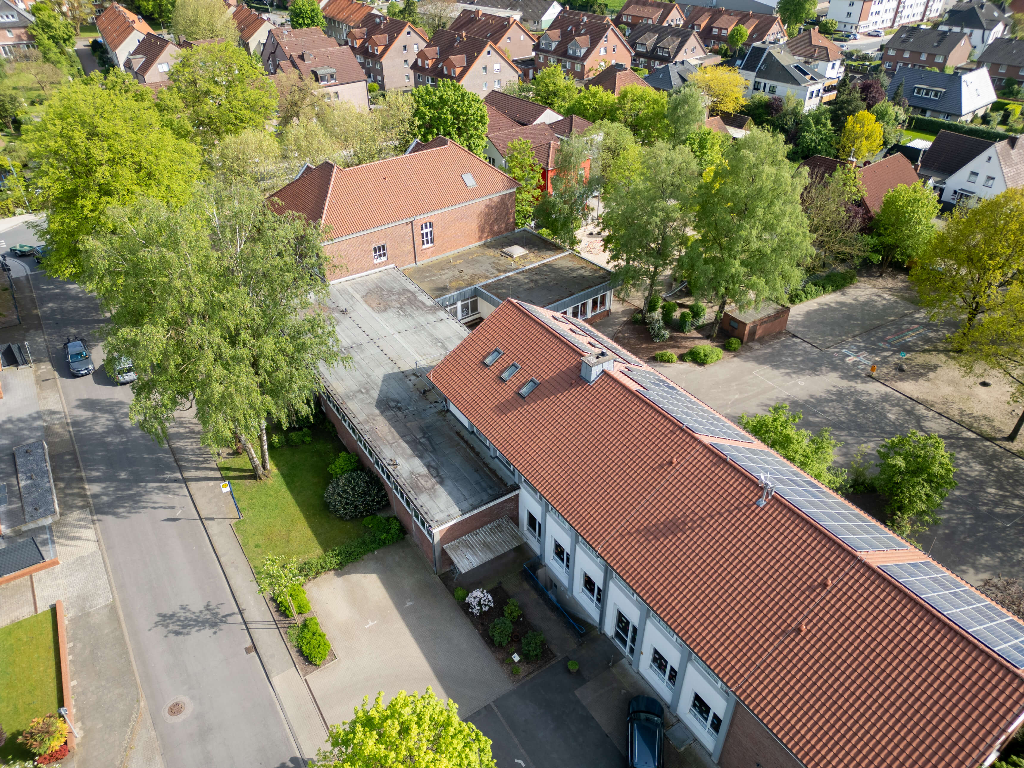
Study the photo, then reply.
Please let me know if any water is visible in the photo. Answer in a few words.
No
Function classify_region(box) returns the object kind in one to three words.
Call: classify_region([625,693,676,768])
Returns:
car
